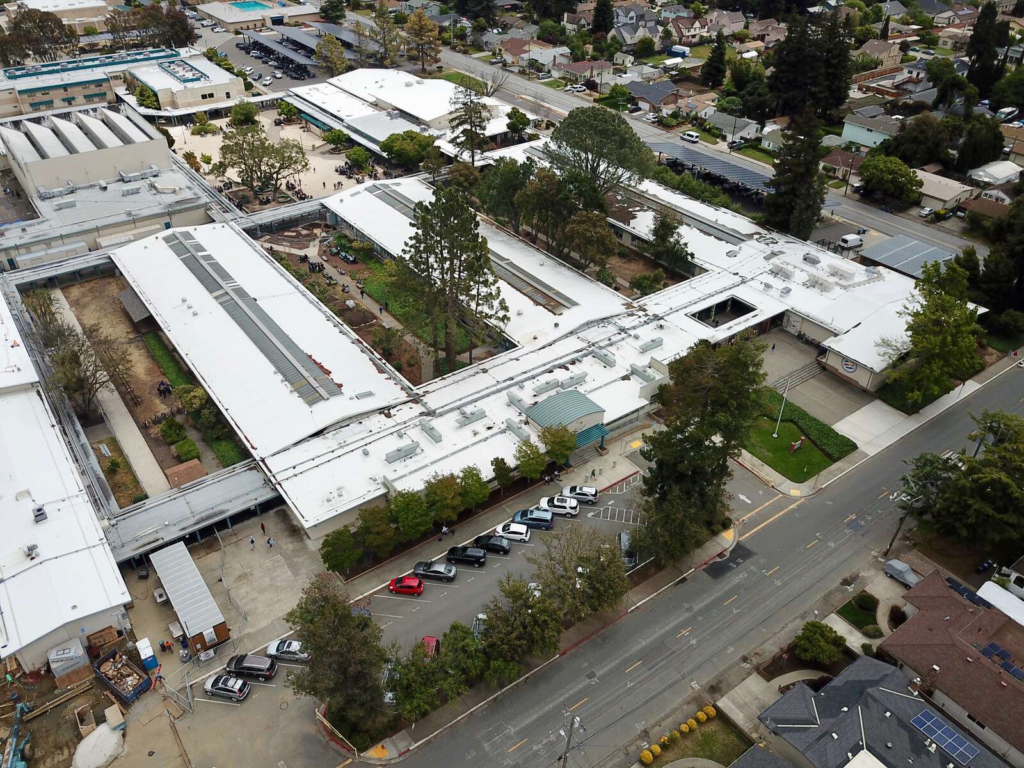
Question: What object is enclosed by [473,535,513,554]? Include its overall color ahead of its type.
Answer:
black car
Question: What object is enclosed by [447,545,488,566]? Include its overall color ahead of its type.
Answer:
black car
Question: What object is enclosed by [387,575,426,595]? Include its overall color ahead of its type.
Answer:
red car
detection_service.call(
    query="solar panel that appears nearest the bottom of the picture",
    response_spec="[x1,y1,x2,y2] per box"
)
[910,709,980,766]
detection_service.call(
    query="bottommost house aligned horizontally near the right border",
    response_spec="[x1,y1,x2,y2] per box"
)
[756,655,1005,768]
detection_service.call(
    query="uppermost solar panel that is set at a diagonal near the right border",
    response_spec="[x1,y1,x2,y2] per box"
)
[946,576,993,609]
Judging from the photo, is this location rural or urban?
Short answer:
urban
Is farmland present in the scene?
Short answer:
No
